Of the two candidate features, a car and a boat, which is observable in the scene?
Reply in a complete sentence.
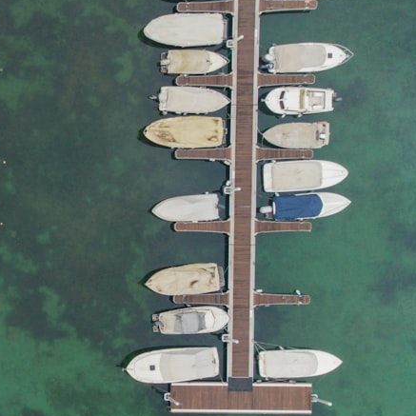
This aerial view contains a boat.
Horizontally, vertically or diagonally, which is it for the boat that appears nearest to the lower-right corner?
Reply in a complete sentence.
I'd say the boat that appears nearest to the lower-right corner is aligned horizontally in the picture.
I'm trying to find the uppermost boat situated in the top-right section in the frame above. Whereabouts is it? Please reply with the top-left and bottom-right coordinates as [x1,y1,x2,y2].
[258,40,357,73]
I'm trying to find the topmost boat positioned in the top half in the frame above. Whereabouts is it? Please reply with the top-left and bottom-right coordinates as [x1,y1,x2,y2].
[143,12,227,47]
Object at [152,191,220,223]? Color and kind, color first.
white boat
